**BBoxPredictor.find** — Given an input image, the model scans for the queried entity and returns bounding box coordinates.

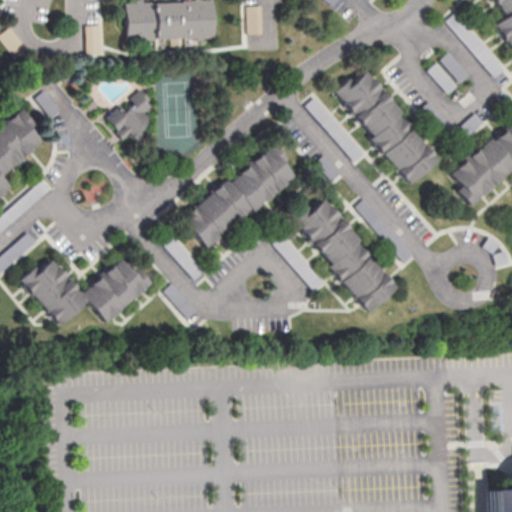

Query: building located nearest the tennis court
[102,92,150,146]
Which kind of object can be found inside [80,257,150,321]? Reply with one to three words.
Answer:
building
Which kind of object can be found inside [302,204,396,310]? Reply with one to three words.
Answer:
building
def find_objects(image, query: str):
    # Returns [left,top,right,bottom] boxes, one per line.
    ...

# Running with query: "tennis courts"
[156,76,203,158]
